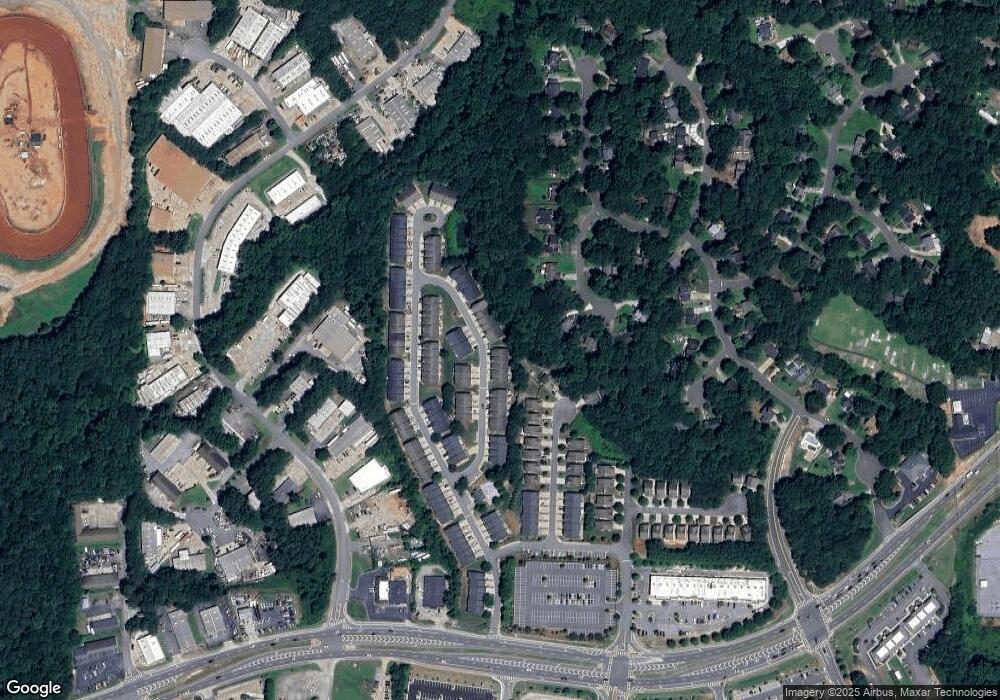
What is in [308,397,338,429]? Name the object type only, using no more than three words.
building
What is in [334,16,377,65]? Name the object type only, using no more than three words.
building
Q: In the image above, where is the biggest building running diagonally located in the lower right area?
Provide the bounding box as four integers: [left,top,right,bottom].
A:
[862,597,947,681]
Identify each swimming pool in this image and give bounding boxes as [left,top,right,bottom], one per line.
[481,482,500,505]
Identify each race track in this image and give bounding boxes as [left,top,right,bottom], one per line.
[0,14,89,261]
